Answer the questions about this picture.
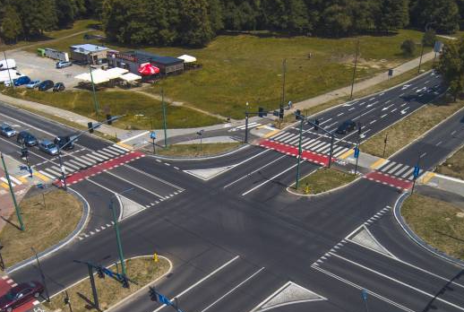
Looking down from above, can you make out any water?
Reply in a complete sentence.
No, water can't be seen anywhere here.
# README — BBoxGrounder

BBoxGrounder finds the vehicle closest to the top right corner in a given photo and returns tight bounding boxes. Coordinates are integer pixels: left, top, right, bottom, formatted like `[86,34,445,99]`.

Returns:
[335,118,359,134]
